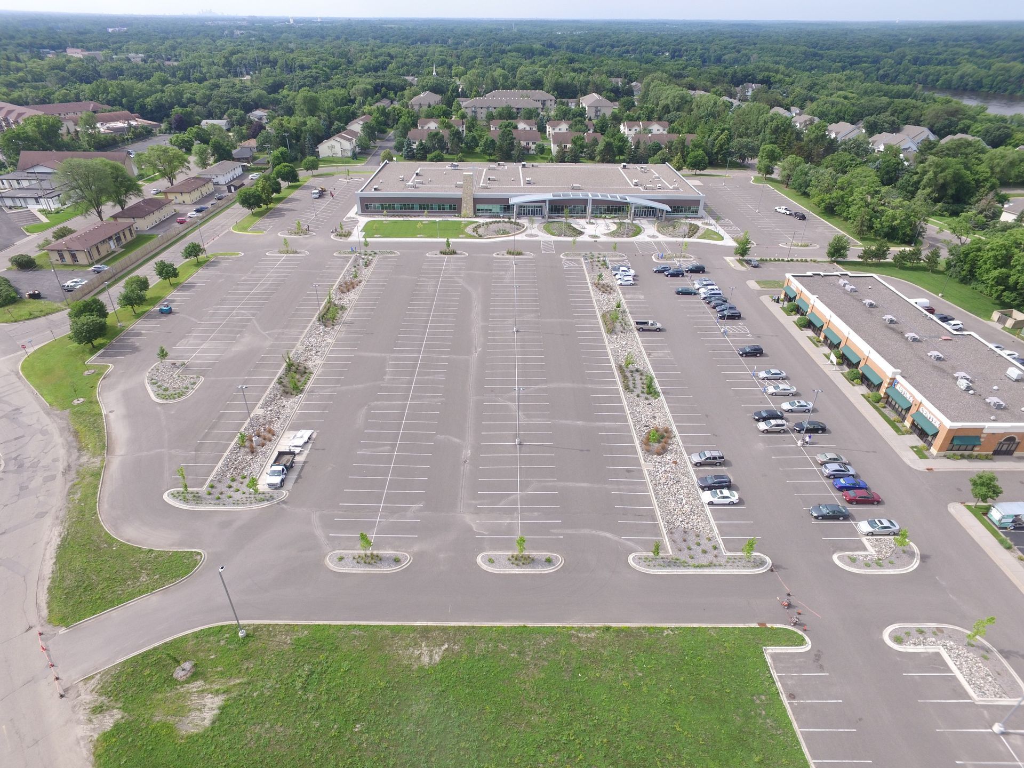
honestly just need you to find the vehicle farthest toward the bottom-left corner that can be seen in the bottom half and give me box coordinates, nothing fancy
[264,445,298,485]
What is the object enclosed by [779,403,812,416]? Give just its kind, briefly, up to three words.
vehicle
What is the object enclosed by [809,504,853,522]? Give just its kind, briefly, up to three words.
car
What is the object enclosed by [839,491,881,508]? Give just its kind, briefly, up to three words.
car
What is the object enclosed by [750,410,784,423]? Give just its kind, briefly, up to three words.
vehicle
